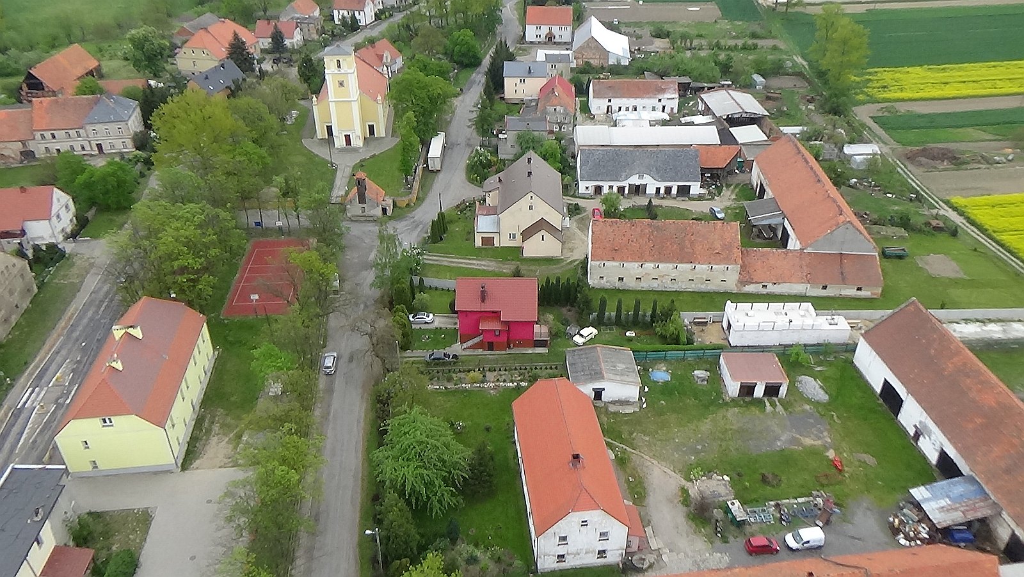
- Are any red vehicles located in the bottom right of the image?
Yes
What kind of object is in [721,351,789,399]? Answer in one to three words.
building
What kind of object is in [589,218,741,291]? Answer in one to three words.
barn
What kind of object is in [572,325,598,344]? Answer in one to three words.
car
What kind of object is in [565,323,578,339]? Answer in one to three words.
vehicle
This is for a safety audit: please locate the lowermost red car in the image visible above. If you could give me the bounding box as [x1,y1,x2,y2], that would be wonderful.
[744,537,782,554]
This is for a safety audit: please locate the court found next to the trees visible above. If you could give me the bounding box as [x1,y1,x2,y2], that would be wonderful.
[222,237,312,315]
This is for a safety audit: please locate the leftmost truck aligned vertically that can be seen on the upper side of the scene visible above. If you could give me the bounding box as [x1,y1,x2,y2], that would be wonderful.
[428,127,449,168]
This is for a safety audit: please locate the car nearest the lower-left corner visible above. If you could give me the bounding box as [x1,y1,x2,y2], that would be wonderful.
[323,355,338,376]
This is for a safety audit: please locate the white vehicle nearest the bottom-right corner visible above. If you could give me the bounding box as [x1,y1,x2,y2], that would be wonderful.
[784,524,828,552]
